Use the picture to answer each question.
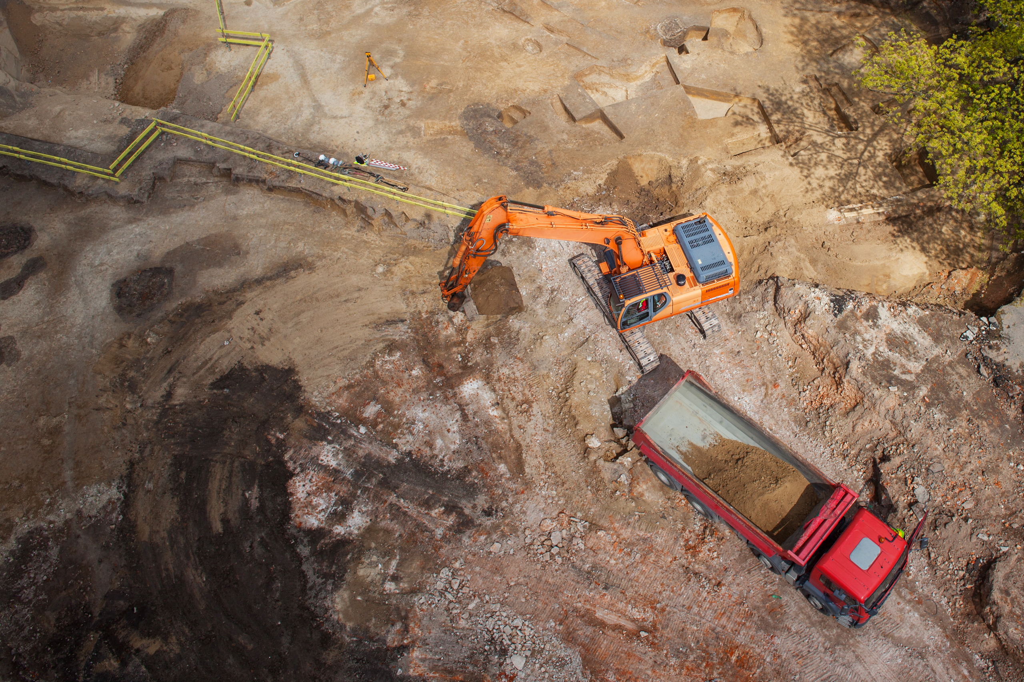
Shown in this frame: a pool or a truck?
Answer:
truck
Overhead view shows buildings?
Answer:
No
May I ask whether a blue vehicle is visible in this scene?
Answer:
No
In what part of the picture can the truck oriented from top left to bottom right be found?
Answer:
bottom right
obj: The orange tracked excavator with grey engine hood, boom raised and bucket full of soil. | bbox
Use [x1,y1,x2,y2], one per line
[438,191,745,376]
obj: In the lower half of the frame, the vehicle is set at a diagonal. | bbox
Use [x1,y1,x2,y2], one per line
[633,367,935,635]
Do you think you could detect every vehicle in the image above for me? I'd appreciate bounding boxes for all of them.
[438,191,745,376]
[633,367,935,635]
